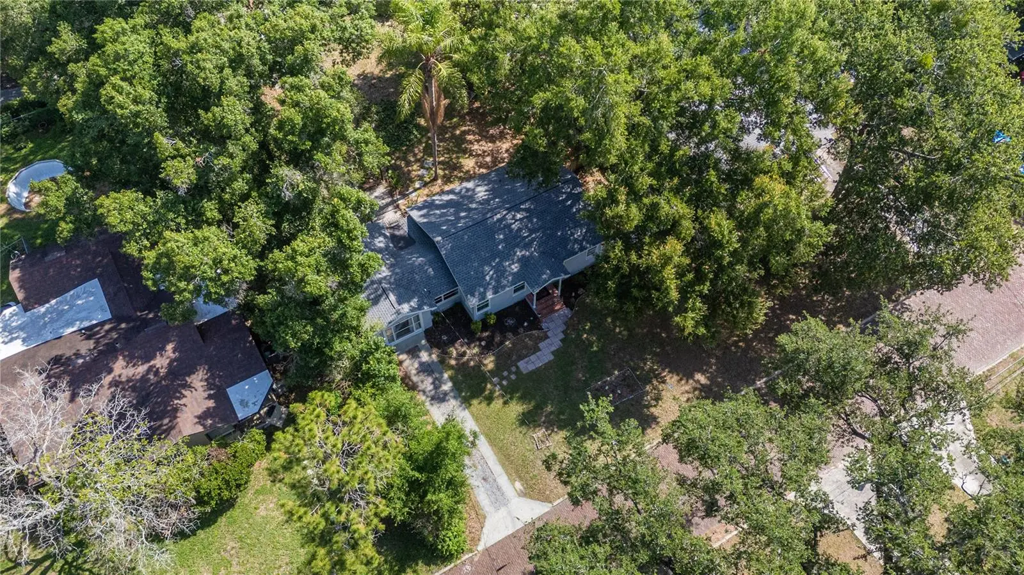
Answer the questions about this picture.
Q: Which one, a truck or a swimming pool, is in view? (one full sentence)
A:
The one in the frame is a swimming pool.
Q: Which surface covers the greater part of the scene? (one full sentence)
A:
The scene is dominated by trees.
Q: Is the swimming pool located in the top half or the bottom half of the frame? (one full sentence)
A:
The swimming pool sits in the top half of the picture.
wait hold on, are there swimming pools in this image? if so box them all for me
[3,157,70,209]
